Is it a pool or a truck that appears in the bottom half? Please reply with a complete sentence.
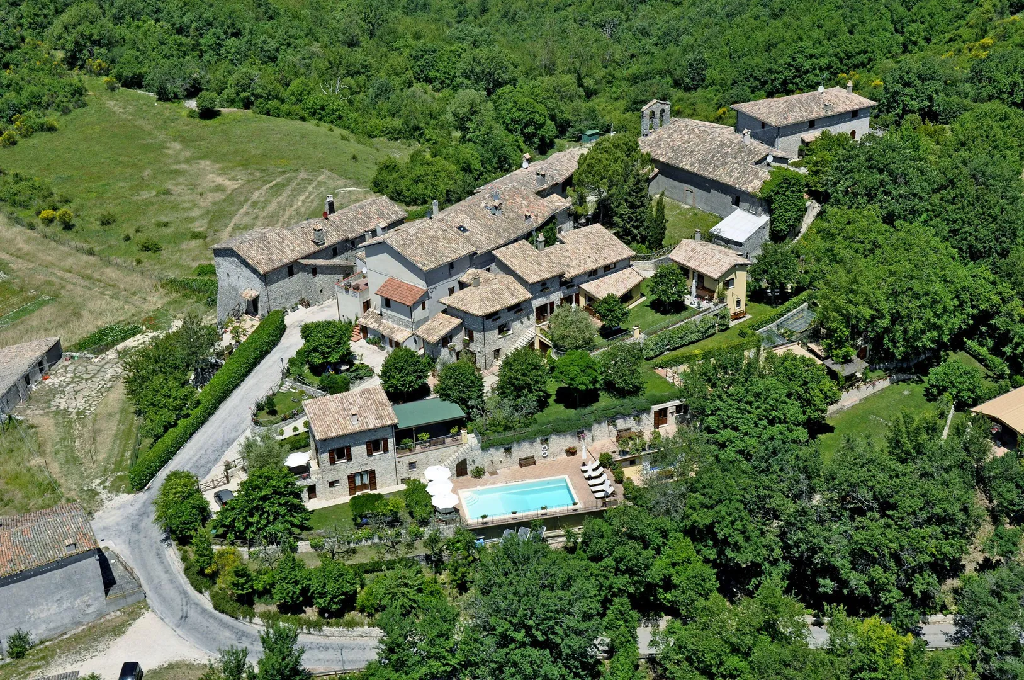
There is a pool in the bottom half.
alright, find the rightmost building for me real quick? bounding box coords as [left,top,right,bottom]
[965,386,1024,471]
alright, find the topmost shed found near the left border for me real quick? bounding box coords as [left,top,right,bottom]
[0,324,59,422]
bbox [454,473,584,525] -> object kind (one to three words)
swimming pool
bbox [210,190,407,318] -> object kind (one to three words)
house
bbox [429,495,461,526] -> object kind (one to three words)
umbrella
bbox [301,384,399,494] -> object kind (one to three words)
building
